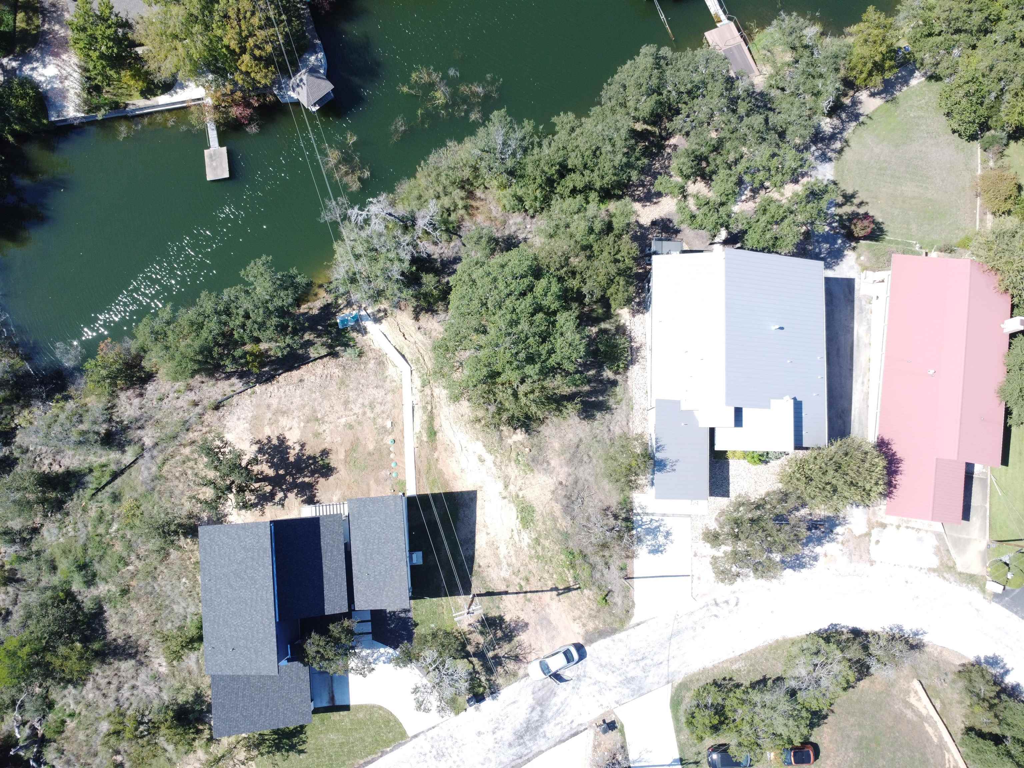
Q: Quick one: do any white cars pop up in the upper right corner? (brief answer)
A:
No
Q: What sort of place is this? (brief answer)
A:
residential area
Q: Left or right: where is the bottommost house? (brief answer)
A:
left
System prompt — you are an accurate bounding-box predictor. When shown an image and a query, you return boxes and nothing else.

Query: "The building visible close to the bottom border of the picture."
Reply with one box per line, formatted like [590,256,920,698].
[198,495,411,738]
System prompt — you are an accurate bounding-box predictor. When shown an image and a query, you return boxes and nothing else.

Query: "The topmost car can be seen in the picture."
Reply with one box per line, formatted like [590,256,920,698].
[526,644,583,690]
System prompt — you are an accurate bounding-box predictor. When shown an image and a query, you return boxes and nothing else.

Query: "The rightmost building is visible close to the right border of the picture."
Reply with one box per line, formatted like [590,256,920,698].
[865,254,1024,525]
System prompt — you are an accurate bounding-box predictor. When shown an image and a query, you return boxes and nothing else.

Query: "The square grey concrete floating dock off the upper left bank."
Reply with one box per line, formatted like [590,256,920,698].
[204,146,232,183]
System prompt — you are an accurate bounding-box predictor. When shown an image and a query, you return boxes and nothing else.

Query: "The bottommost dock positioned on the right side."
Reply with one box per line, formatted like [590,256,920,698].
[702,17,761,84]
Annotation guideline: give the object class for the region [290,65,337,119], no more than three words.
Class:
gazebo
